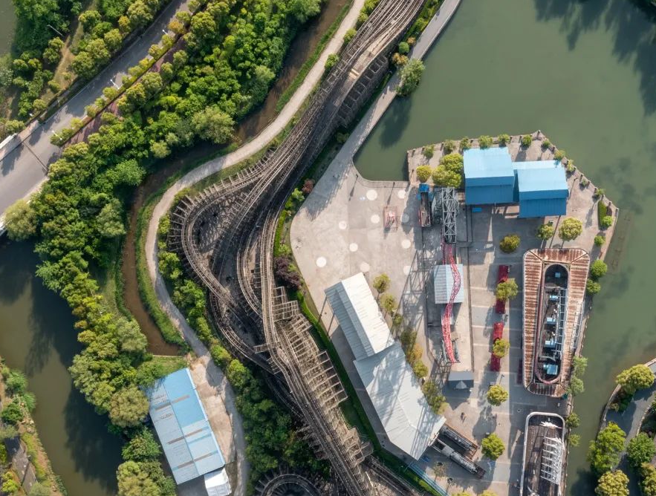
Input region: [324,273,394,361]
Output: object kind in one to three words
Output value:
building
